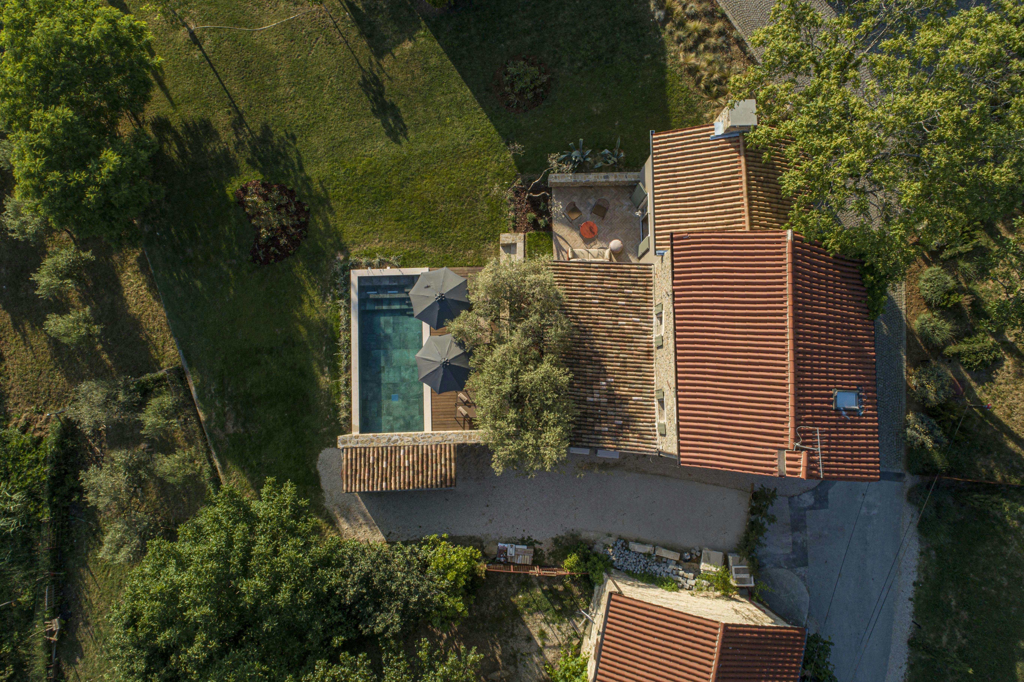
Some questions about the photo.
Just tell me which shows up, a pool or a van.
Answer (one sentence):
I can see a pool in this picture.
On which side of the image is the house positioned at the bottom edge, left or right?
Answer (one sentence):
You can find the house positioned at the bottom edge on the right side of the picture.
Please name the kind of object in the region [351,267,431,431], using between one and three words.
swimming pool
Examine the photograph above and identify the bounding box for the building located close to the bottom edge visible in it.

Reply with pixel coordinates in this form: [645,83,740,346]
[586,572,809,682]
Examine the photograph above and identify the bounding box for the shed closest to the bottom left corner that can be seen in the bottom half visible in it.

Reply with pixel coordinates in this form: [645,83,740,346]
[341,441,458,495]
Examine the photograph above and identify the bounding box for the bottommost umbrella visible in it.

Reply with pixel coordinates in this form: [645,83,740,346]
[414,330,476,393]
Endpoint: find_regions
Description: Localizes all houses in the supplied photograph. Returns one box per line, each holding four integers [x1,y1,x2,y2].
[651,228,882,483]
[586,572,809,682]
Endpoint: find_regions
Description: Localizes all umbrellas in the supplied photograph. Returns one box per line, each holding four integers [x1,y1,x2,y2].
[409,266,472,329]
[414,330,476,393]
